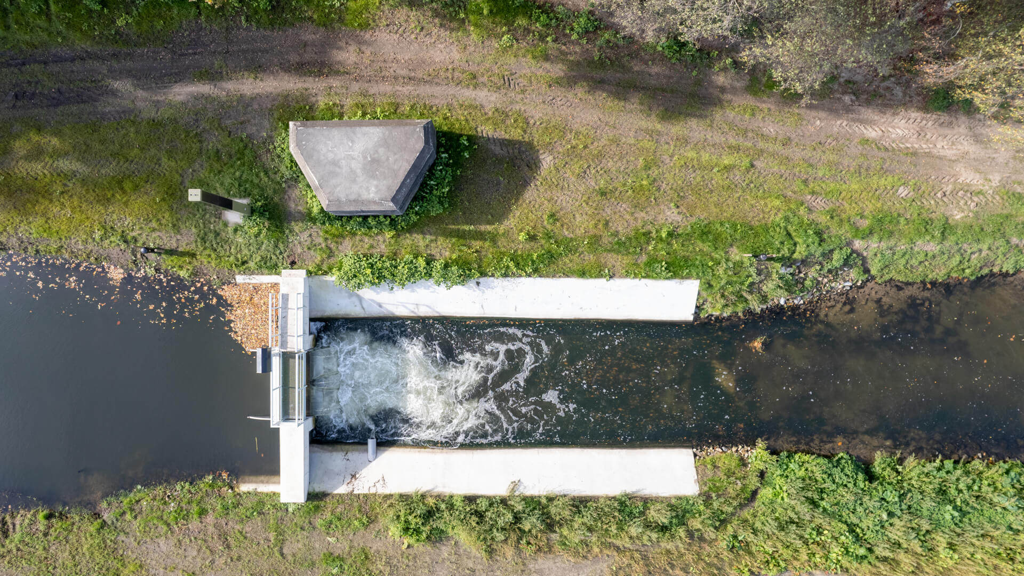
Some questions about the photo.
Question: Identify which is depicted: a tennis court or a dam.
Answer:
dam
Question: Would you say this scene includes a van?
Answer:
No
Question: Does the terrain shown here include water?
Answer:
Yes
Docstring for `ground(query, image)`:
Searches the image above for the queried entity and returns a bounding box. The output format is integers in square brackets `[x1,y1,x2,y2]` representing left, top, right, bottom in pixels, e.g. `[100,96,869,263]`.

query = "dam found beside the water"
[281,270,338,502]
